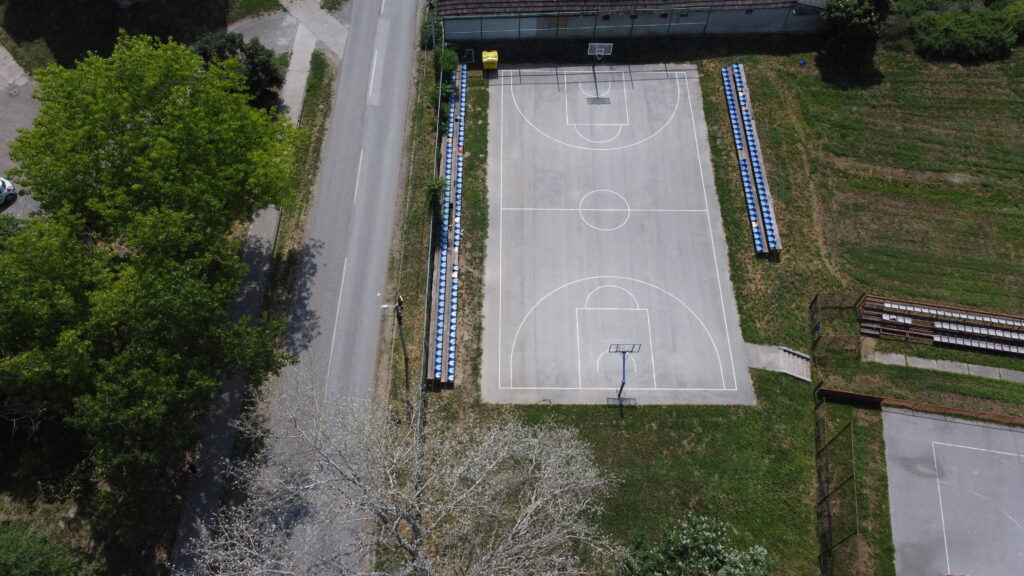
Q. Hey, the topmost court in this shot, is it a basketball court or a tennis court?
basketball court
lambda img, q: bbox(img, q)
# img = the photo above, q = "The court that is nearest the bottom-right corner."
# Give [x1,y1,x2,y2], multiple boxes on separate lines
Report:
[883,410,1024,576]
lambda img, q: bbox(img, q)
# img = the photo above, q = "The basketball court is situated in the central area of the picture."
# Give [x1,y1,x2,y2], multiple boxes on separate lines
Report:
[481,61,756,405]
